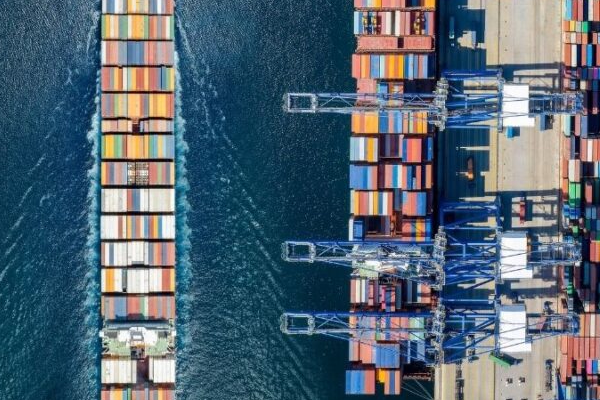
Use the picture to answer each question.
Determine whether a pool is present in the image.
No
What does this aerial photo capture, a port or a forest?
port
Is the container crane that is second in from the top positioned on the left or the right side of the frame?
right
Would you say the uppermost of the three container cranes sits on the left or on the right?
right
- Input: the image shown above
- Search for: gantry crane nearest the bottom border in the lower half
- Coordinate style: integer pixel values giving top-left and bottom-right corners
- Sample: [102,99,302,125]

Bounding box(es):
[285,294,581,356]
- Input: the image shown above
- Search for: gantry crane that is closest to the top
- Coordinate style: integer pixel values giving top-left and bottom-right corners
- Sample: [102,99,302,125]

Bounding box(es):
[286,71,583,133]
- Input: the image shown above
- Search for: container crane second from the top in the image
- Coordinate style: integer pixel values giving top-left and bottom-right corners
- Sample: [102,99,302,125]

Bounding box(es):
[285,222,581,284]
